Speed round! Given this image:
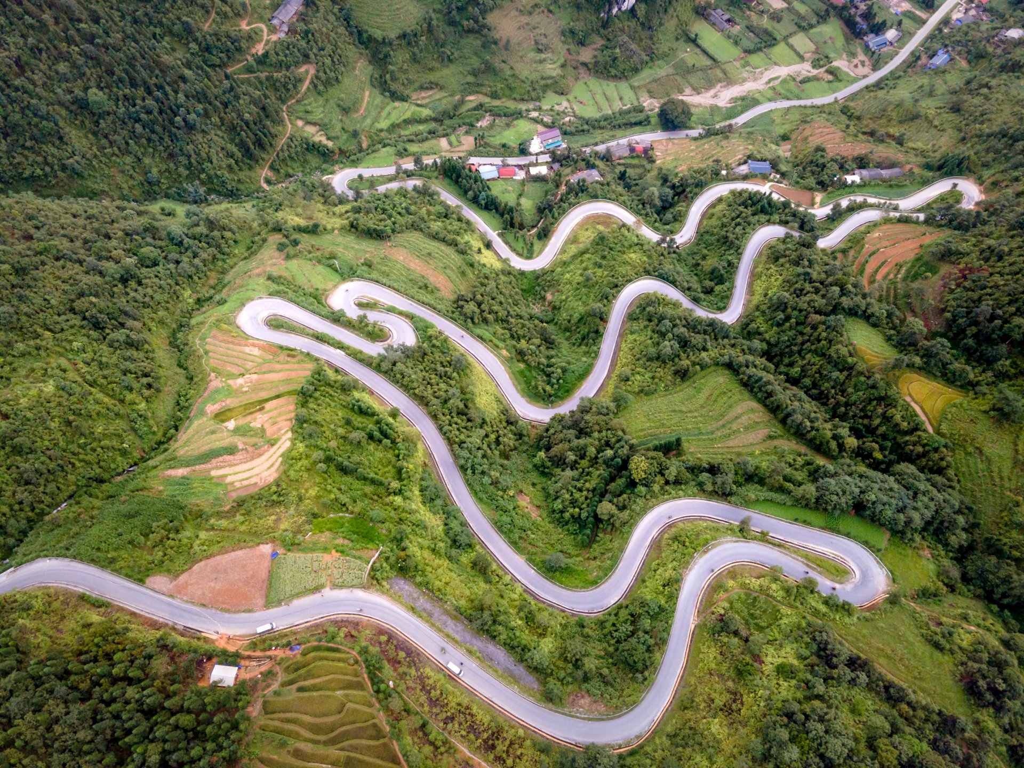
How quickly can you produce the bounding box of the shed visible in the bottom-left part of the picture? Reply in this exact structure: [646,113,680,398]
[210,661,240,692]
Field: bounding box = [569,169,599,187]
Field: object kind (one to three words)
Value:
house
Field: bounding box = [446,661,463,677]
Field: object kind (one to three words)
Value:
vehicle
